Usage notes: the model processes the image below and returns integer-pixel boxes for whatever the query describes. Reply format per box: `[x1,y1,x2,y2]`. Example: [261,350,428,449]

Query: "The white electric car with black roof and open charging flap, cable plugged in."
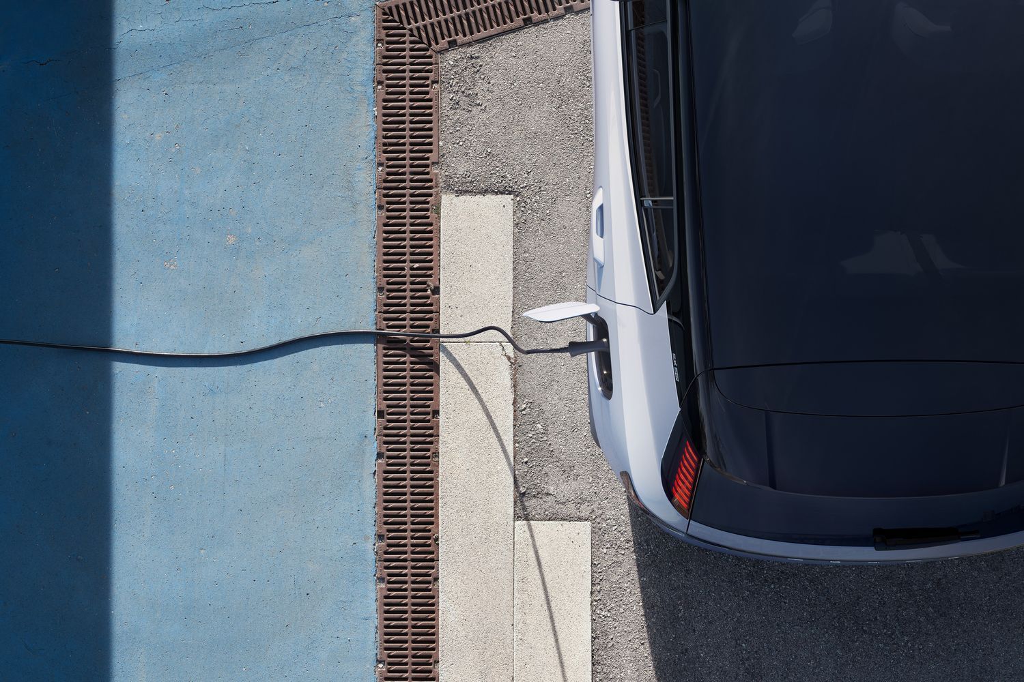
[523,0,1024,568]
